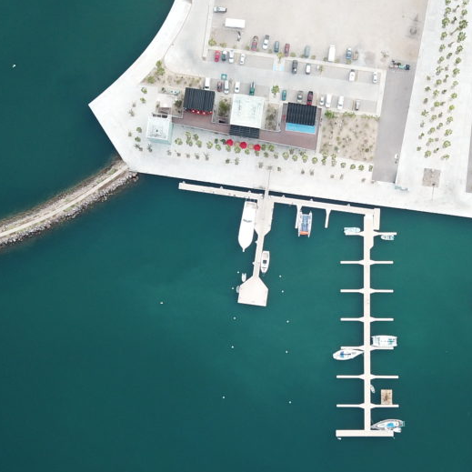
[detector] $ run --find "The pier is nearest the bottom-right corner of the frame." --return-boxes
[336,211,398,437]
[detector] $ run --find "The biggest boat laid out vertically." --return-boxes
[239,198,258,254]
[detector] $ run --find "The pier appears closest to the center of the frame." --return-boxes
[179,174,380,307]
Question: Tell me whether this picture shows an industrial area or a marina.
marina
